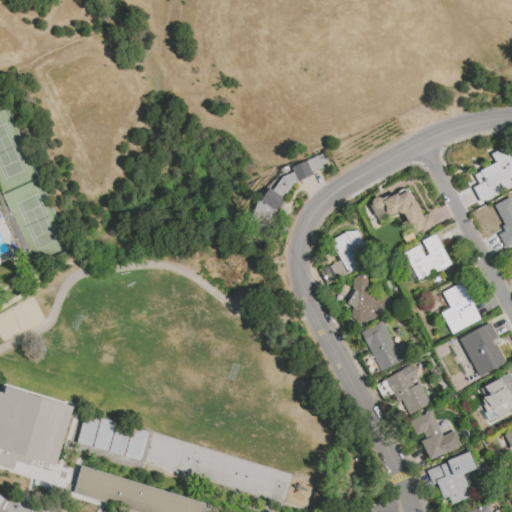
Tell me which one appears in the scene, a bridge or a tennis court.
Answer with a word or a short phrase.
tennis court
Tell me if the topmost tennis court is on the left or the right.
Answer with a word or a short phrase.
left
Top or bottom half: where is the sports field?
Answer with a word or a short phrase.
bottom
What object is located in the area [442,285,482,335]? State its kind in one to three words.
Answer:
house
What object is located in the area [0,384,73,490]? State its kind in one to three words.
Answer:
building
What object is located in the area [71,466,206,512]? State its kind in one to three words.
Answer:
building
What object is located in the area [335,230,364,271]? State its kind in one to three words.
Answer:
house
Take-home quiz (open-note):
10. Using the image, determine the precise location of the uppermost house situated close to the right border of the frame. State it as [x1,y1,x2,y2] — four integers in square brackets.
[474,150,512,200]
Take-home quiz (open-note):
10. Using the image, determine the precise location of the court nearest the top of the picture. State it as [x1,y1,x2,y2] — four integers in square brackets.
[0,109,35,193]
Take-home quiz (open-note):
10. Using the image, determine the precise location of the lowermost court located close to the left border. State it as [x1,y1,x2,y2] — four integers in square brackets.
[0,296,45,342]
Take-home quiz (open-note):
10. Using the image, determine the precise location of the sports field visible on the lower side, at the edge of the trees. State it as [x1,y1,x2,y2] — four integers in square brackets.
[0,270,318,474]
